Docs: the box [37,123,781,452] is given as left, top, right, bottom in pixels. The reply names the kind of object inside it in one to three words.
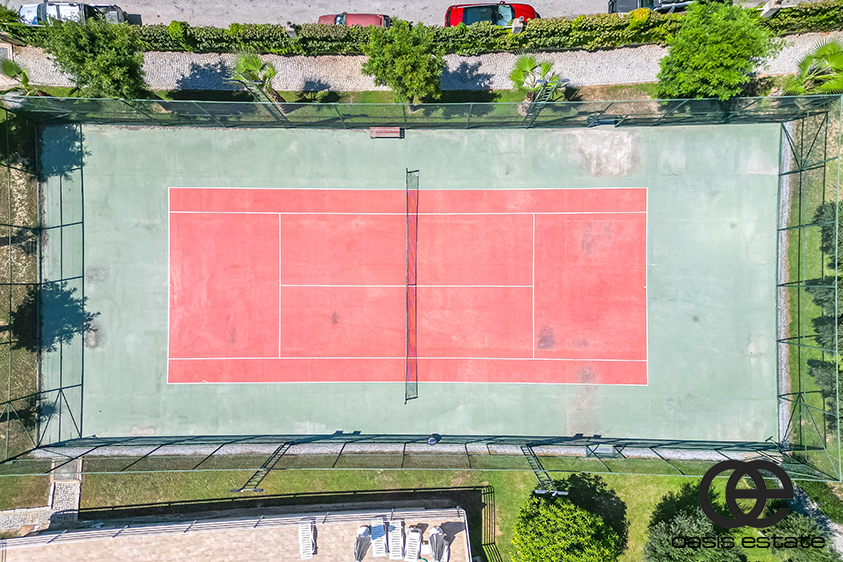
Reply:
tennis court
